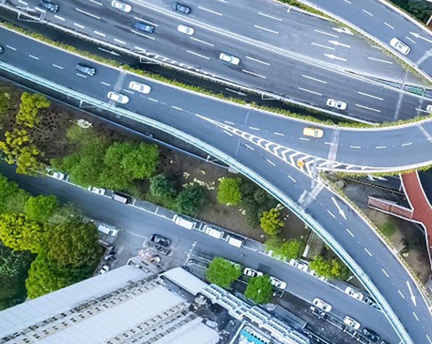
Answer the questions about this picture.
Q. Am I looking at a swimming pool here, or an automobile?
automobile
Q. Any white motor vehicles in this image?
Yes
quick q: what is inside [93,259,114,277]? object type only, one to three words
car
